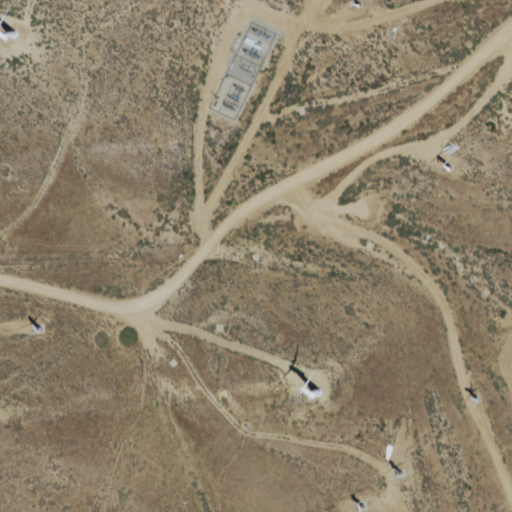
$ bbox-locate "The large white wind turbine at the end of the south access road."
[289,374,323,410]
